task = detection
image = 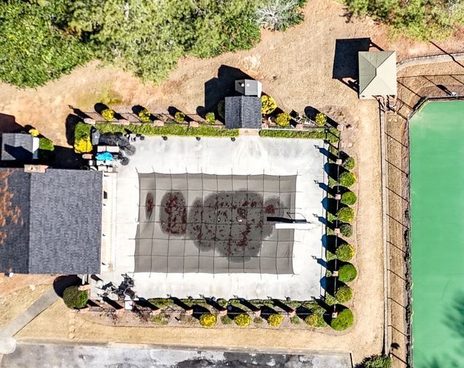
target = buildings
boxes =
[0,162,123,281]
[221,96,261,130]
[1,133,43,161]
[359,51,397,100]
